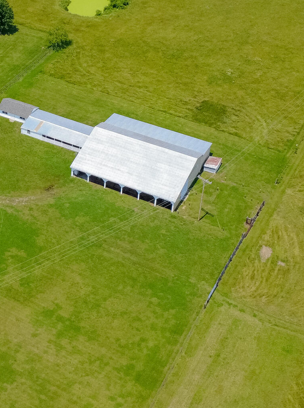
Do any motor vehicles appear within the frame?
No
